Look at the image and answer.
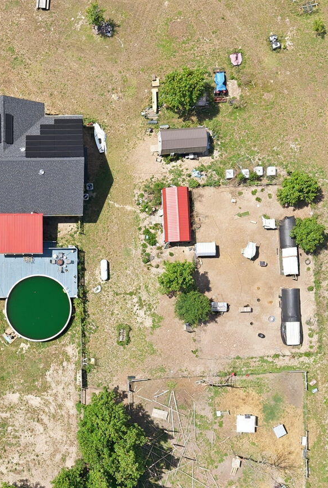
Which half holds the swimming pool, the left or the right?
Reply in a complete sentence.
You can find the swimming pool on the left side of the picture.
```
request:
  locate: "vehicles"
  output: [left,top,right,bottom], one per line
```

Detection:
[213,63,230,101]
[269,32,283,50]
